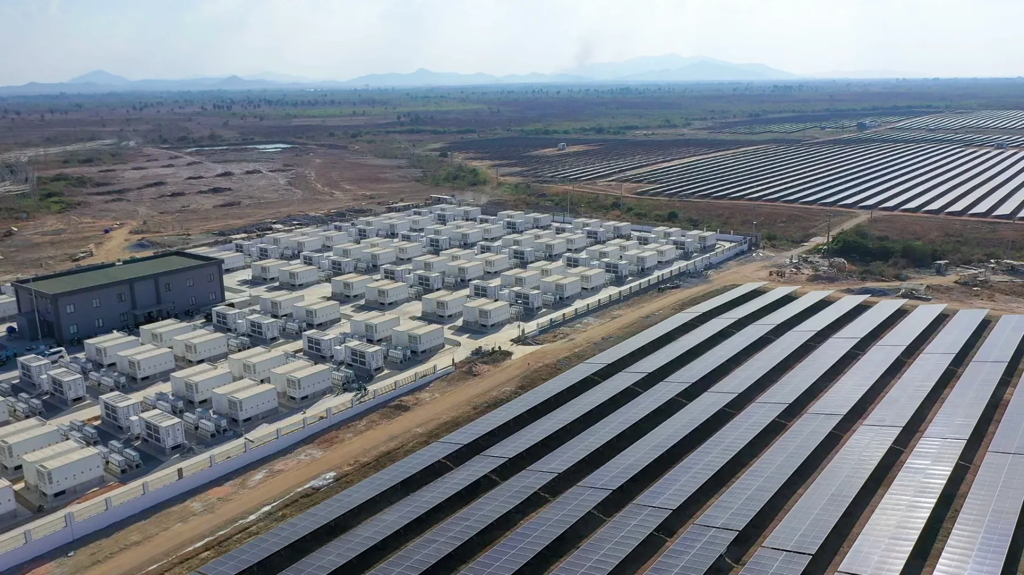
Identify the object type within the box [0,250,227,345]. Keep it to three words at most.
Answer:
building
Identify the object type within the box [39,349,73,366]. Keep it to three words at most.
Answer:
car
